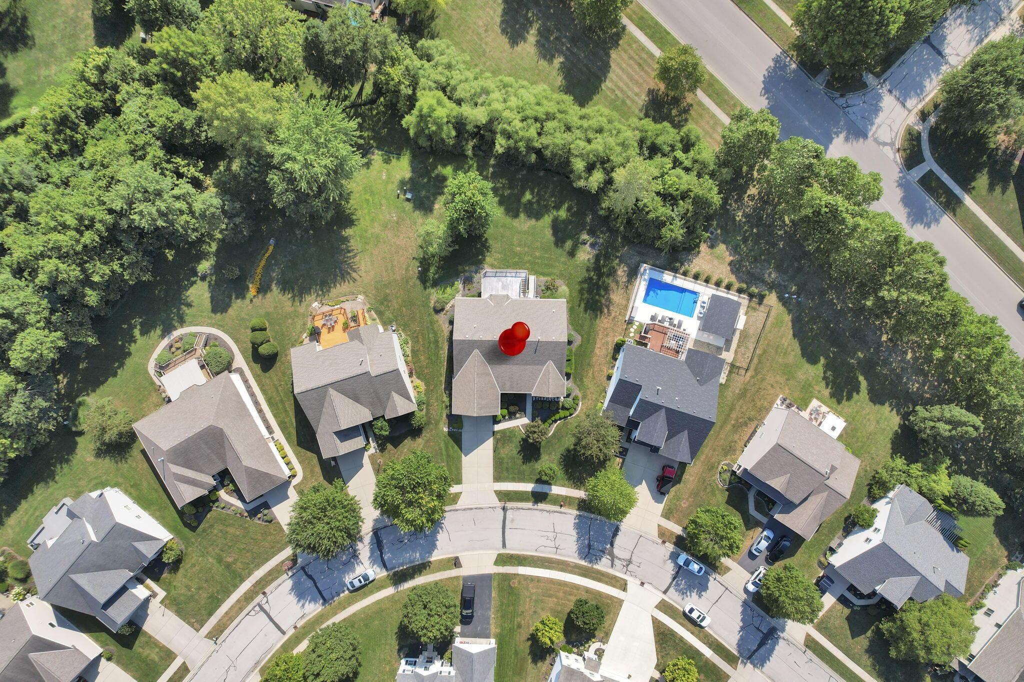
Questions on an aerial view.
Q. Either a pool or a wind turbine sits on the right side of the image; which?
pool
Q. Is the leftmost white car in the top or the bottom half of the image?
bottom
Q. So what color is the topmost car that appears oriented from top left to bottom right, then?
blue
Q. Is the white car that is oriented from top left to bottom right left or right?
right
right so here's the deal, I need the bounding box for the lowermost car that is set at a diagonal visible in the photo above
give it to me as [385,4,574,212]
[681,602,710,628]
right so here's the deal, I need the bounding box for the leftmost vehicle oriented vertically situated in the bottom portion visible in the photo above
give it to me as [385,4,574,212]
[460,583,475,622]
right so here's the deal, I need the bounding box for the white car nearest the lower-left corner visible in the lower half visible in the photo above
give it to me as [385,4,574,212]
[345,568,376,592]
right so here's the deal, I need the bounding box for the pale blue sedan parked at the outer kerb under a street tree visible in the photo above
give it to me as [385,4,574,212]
[675,552,706,578]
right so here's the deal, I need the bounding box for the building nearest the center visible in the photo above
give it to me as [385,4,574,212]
[452,294,568,417]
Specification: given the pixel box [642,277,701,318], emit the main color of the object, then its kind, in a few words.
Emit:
blue swimming pool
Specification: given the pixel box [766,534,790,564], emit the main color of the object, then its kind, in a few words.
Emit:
black car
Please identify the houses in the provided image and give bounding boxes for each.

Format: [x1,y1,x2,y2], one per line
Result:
[132,370,292,508]
[827,488,973,616]
[29,489,175,632]
[950,555,1024,682]
[603,343,725,464]
[396,638,496,682]
[0,596,102,682]
[737,409,861,541]
[551,653,625,682]
[291,324,418,458]
[452,294,568,417]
